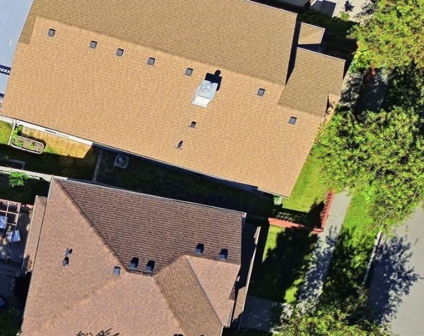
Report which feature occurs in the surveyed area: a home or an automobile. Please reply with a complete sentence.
There is a home in the scene.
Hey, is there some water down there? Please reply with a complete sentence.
No, there is no water in the image.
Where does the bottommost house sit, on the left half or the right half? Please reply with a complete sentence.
The bottommost house is on the left side of the image.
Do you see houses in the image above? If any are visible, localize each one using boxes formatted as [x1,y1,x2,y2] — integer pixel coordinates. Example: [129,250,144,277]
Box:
[1,0,346,197]
[21,177,261,336]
